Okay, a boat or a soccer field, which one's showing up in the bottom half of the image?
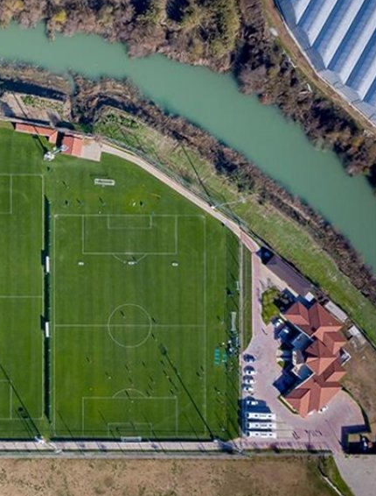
soccer field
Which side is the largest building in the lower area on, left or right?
right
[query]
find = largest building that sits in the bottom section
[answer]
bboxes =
[277,299,351,413]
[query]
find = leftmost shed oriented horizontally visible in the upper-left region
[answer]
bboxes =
[15,123,57,136]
